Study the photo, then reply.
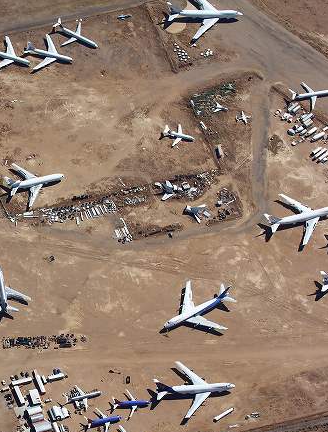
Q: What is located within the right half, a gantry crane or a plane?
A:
plane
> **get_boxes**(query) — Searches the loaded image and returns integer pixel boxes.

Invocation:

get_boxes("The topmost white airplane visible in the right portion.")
[168,0,243,39]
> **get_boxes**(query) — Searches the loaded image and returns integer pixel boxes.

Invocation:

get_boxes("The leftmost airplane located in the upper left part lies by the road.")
[0,36,30,66]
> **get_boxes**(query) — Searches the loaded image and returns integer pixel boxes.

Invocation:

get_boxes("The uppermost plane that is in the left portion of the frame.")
[51,17,98,48]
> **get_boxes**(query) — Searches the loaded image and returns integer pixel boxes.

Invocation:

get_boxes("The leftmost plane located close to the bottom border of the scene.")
[64,387,101,411]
